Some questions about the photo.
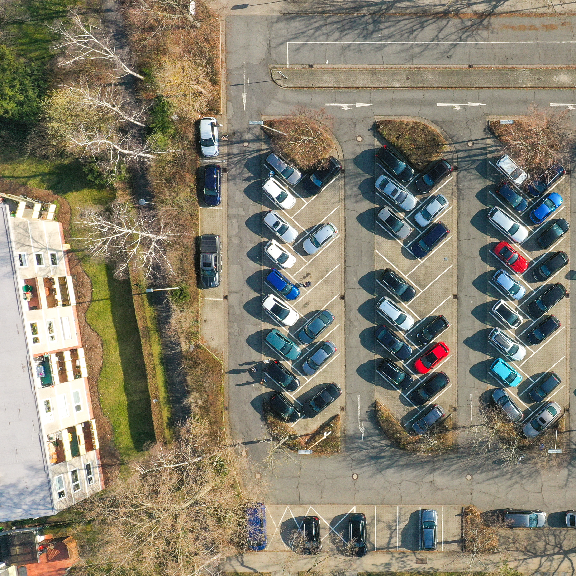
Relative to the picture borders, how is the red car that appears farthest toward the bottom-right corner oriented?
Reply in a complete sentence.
The red car that appears farthest toward the bottom-right corner is laid out at an angle.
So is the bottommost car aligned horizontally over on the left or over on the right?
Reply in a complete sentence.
The bottommost car aligned horizontally sits on the right side.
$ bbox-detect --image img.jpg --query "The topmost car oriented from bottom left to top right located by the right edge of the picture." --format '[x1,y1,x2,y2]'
[528,161,566,197]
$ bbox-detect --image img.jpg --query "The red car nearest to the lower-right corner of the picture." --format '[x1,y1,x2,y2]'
[415,340,451,374]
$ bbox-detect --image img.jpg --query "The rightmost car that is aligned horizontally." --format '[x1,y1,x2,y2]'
[505,509,547,530]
